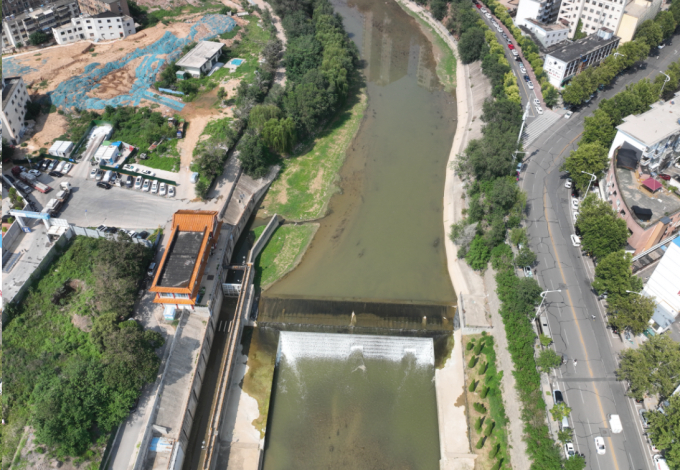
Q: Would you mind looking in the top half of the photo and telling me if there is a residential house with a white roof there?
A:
Yes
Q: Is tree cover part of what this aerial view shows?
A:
Yes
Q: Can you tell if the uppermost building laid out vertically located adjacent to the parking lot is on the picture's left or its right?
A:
left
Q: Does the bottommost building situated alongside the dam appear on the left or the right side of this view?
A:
left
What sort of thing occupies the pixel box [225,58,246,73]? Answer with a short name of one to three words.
swimming pool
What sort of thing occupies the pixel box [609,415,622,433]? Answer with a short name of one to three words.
vehicle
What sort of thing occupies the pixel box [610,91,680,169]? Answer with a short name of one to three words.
building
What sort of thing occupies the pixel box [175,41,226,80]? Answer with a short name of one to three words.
house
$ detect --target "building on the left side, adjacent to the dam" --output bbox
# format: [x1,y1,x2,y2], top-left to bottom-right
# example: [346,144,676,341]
[149,214,223,315]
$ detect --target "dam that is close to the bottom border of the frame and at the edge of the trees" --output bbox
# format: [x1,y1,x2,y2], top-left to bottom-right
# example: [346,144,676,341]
[214,284,471,470]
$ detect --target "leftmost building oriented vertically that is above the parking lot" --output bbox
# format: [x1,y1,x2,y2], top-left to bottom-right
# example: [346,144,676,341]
[0,76,31,149]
